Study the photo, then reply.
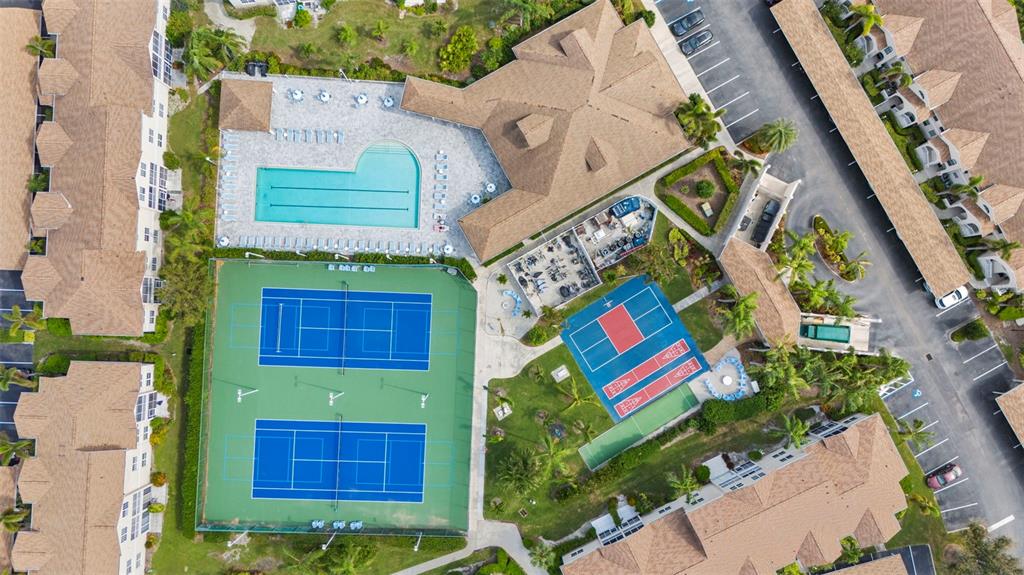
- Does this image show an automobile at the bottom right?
Yes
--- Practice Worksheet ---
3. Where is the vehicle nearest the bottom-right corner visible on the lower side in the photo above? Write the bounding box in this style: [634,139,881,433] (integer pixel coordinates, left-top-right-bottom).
[925,462,961,488]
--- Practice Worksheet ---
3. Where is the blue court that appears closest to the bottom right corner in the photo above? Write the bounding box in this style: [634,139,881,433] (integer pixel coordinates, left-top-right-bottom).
[560,276,711,424]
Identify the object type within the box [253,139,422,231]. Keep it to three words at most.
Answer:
swimming pool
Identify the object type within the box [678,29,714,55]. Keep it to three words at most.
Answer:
car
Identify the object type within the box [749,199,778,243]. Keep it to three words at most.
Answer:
truck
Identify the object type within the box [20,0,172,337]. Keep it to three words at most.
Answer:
building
